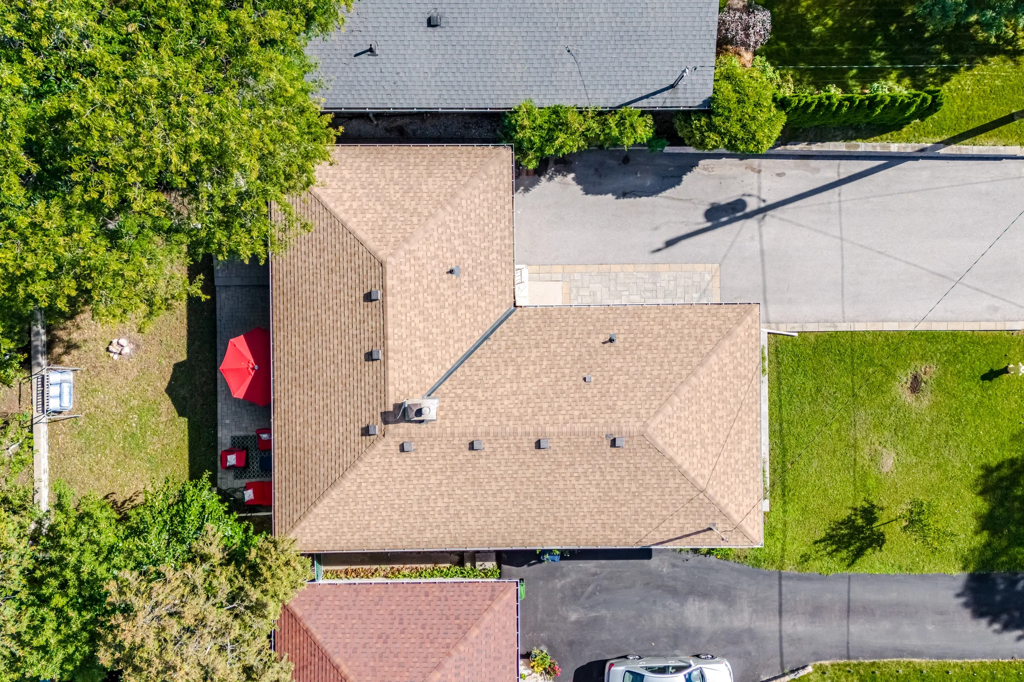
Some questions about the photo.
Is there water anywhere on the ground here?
No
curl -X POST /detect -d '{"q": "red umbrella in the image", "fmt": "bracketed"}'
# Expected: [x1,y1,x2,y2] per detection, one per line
[219,324,271,408]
